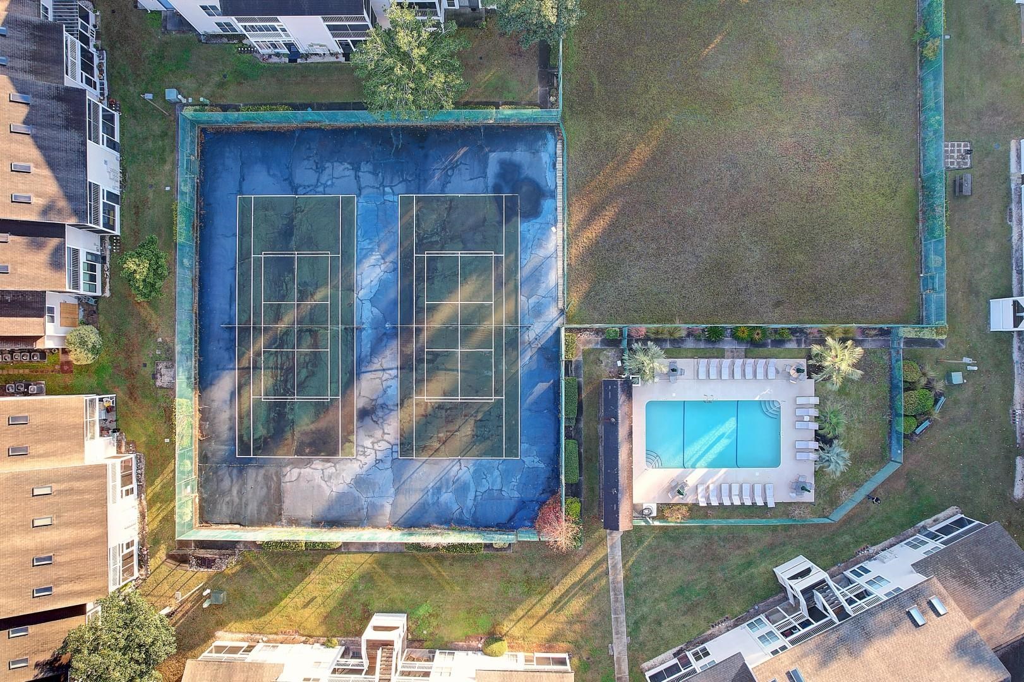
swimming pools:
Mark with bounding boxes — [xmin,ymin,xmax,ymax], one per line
[643,396,785,471]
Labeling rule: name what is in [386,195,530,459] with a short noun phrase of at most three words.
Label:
tennis court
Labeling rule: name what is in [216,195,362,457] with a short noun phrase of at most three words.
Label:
tennis court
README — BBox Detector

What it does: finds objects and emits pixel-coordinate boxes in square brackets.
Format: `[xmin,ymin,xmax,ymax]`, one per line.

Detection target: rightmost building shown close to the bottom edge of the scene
[645,513,1024,682]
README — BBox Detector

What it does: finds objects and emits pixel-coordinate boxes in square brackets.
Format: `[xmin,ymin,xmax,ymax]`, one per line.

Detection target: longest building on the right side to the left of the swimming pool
[601,379,633,533]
